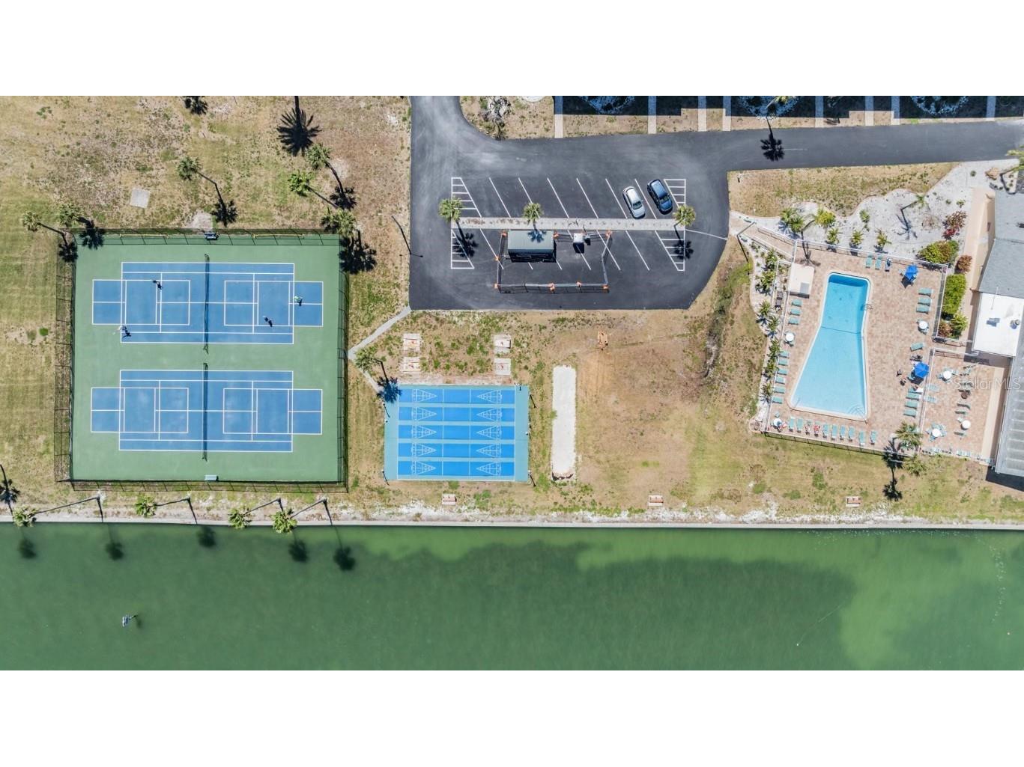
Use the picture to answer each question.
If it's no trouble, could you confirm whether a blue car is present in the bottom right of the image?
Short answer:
No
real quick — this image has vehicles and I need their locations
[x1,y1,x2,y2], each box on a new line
[624,184,647,218]
[648,178,673,214]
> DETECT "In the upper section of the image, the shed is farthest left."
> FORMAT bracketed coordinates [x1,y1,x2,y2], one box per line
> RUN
[502,230,554,261]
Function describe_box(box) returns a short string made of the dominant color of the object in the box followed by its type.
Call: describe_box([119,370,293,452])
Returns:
blue tennis court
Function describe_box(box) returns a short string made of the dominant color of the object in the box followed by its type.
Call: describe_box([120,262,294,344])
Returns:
blue tennis court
